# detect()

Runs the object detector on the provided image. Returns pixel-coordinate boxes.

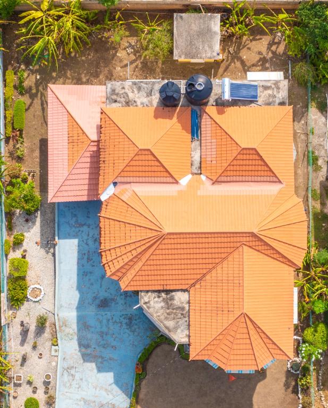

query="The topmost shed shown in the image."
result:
[174,12,219,65]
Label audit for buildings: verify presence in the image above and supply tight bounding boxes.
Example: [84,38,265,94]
[174,12,219,65]
[48,81,308,373]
